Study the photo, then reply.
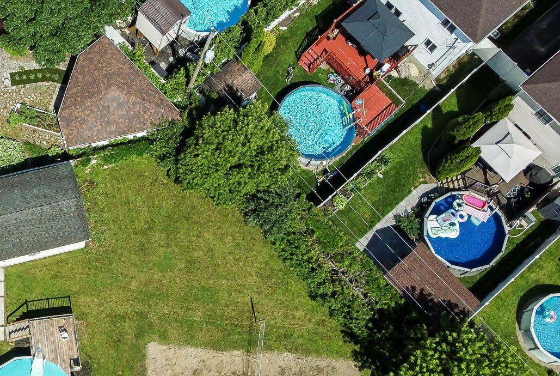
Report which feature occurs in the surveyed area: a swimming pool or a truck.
swimming pool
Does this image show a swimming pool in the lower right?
Yes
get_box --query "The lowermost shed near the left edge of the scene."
[0,161,91,268]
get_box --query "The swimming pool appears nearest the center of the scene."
[274,86,357,167]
